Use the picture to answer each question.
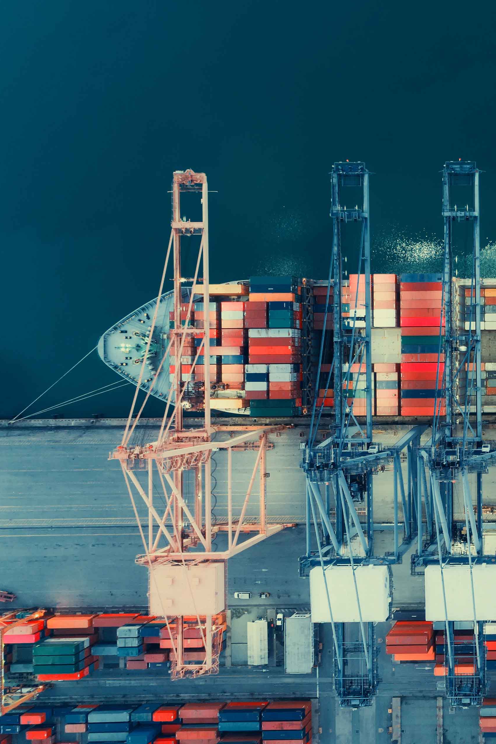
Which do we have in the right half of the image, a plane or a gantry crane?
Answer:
gantry crane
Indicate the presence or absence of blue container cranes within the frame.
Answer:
Yes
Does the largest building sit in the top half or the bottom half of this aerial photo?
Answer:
bottom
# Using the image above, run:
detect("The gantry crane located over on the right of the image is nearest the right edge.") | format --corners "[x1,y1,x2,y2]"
[408,156,496,709]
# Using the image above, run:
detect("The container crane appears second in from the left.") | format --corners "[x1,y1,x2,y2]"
[107,165,308,686]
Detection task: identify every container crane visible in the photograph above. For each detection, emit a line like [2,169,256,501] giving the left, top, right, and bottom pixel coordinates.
[107,165,308,686]
[0,607,55,715]
[298,157,436,709]
[408,156,496,709]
